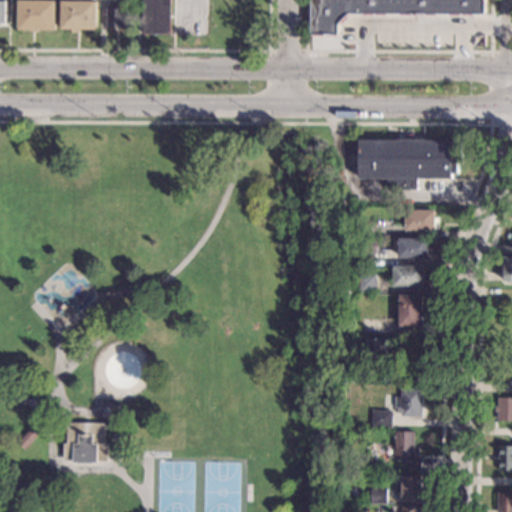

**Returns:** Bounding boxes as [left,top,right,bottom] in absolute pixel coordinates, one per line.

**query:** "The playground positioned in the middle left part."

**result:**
[32,263,92,327]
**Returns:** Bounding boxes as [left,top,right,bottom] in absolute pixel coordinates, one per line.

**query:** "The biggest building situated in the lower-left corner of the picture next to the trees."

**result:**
[62,423,107,463]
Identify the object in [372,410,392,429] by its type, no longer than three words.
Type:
building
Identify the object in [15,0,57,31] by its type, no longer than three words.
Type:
house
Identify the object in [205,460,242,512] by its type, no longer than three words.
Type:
basketball court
